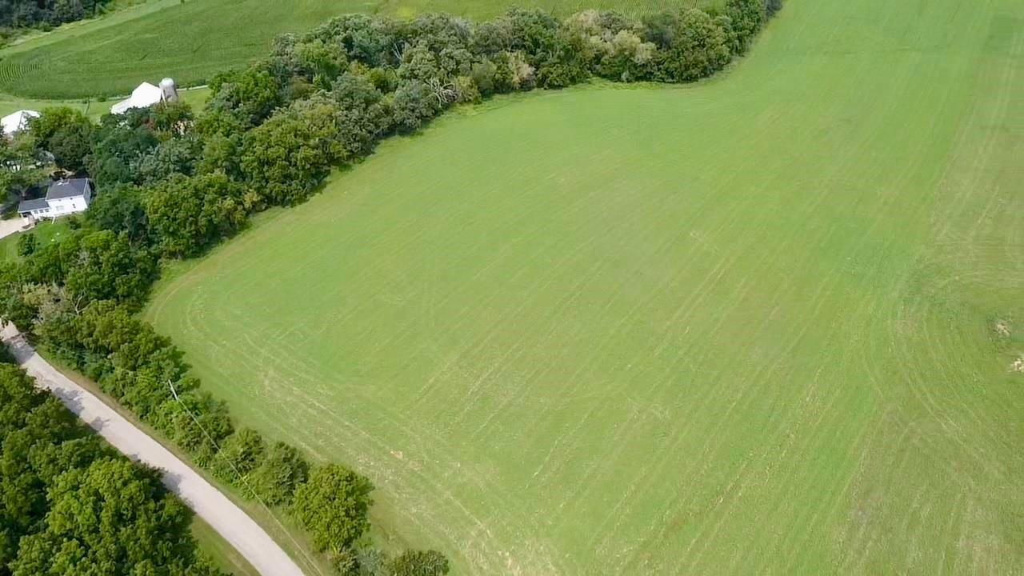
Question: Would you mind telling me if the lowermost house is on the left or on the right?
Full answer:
The lowermost house appears in the left half of the scene.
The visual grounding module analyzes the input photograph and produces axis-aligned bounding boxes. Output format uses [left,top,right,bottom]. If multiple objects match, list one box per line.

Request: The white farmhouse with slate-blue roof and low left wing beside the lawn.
[16,181,89,222]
